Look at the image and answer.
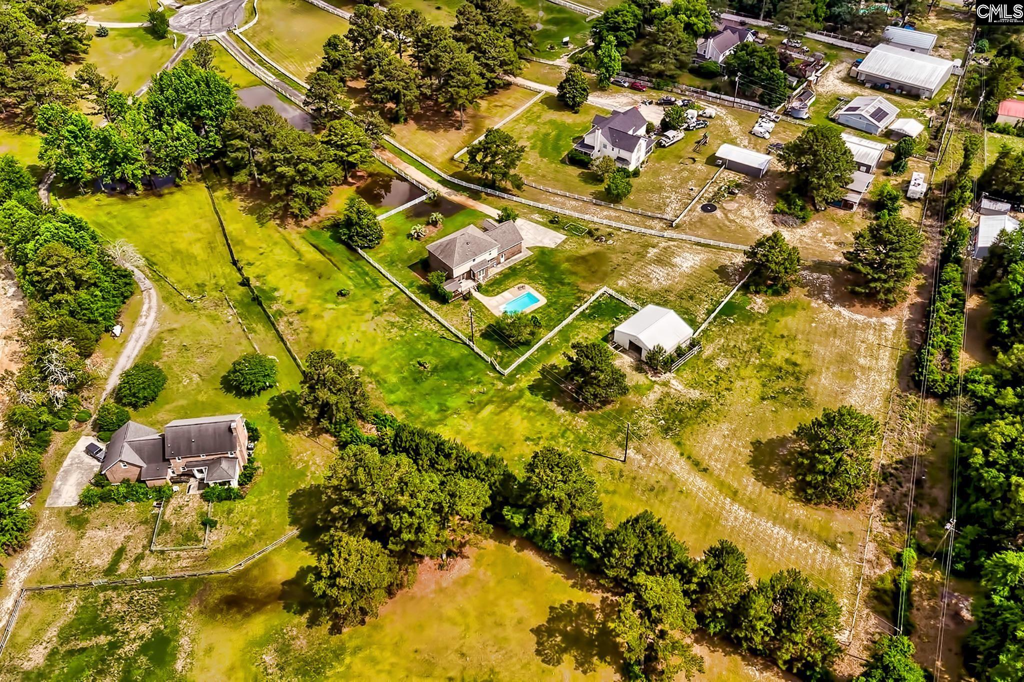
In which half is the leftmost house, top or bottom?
bottom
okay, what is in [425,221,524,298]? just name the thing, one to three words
house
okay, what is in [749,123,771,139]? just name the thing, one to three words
vehicle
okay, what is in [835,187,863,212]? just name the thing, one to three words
shed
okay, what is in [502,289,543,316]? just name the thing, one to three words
swimming pool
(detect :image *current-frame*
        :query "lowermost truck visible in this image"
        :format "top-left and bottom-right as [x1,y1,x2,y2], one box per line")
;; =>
[81,439,106,464]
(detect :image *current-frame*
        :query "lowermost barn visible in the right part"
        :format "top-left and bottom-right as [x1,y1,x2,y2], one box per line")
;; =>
[614,304,700,371]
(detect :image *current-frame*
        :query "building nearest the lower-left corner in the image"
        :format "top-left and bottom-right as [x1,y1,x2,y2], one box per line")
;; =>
[101,414,249,490]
